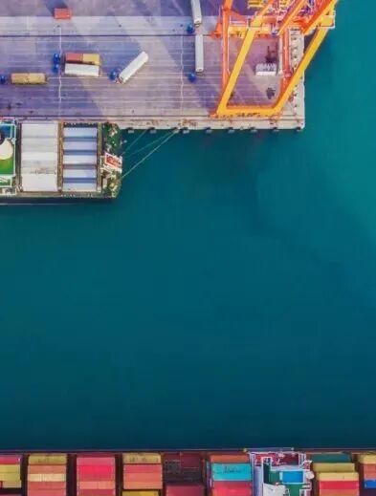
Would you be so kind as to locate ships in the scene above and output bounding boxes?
[0,114,123,201]
[0,441,376,496]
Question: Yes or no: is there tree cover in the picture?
No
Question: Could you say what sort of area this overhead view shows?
port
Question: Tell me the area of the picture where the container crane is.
top right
